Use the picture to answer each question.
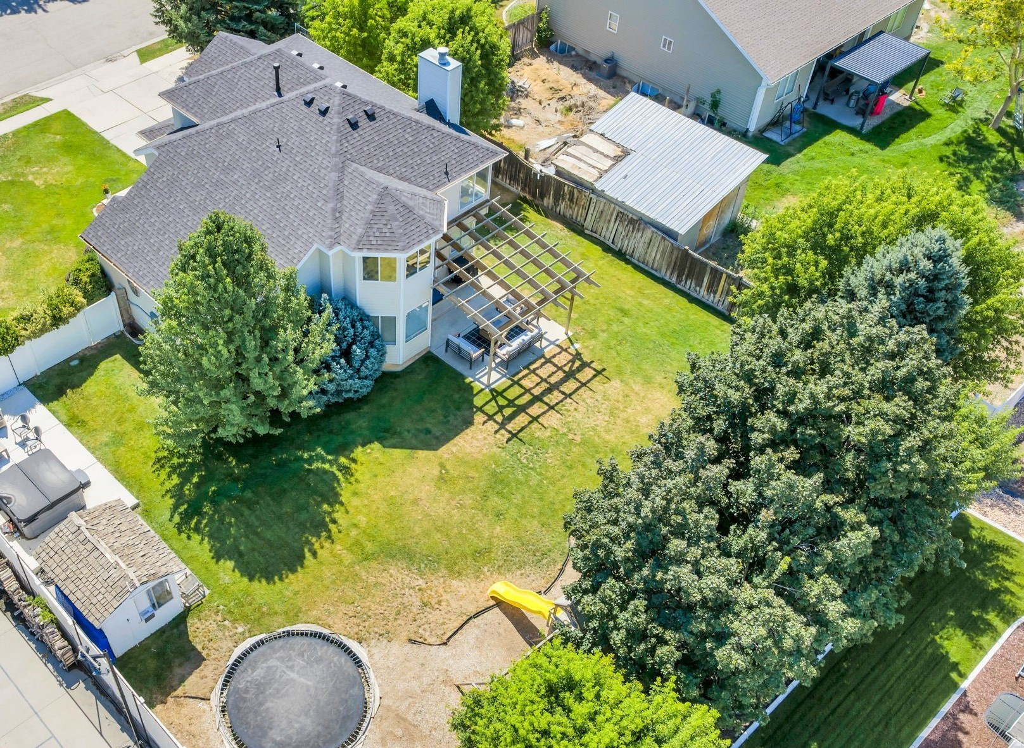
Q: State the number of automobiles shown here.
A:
0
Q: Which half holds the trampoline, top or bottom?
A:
bottom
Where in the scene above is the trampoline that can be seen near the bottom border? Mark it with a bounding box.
[212,627,381,748]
